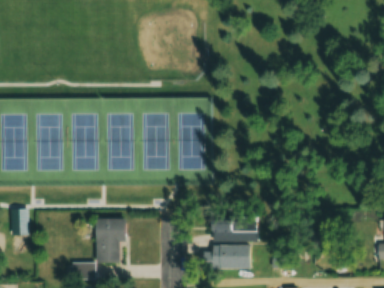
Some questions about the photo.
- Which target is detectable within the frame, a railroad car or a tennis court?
tennis court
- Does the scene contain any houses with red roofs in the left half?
No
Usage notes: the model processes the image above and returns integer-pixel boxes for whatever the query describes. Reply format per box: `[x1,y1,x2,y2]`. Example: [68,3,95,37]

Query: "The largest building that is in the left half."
[96,219,126,264]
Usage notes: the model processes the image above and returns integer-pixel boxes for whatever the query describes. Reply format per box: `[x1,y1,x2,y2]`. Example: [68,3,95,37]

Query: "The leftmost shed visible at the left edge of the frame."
[10,210,29,236]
